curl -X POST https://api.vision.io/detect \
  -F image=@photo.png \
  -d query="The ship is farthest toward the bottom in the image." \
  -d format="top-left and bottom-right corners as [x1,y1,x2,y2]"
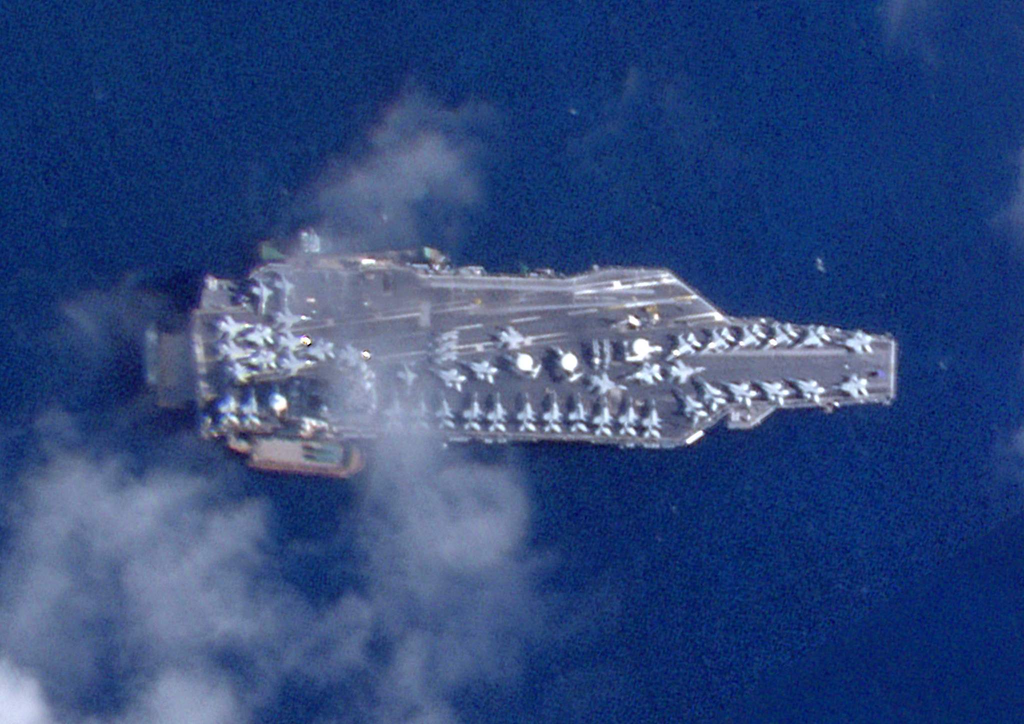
[248,433,363,479]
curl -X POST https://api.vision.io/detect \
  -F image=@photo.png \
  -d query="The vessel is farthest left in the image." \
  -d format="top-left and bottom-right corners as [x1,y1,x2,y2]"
[147,333,196,405]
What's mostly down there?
water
